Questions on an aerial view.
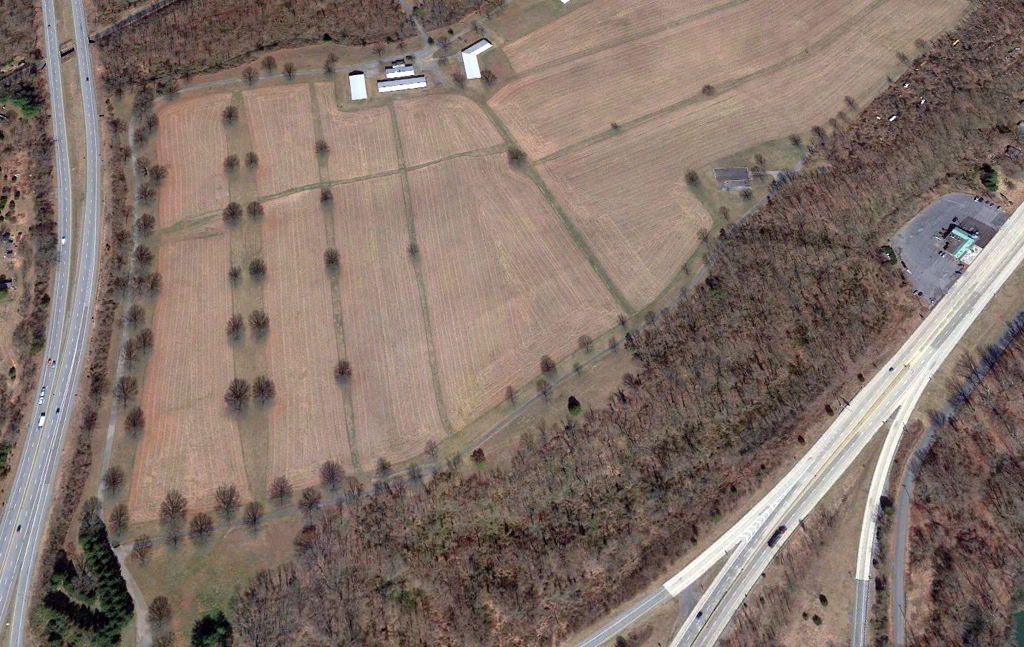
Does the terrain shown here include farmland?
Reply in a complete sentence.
Yes, farmland can be seen from above here.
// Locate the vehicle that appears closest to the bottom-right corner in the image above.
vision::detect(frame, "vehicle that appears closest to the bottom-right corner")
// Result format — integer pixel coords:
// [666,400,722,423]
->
[768,527,785,546]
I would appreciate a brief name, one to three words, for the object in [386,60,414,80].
barn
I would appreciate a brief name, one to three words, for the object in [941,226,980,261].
building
